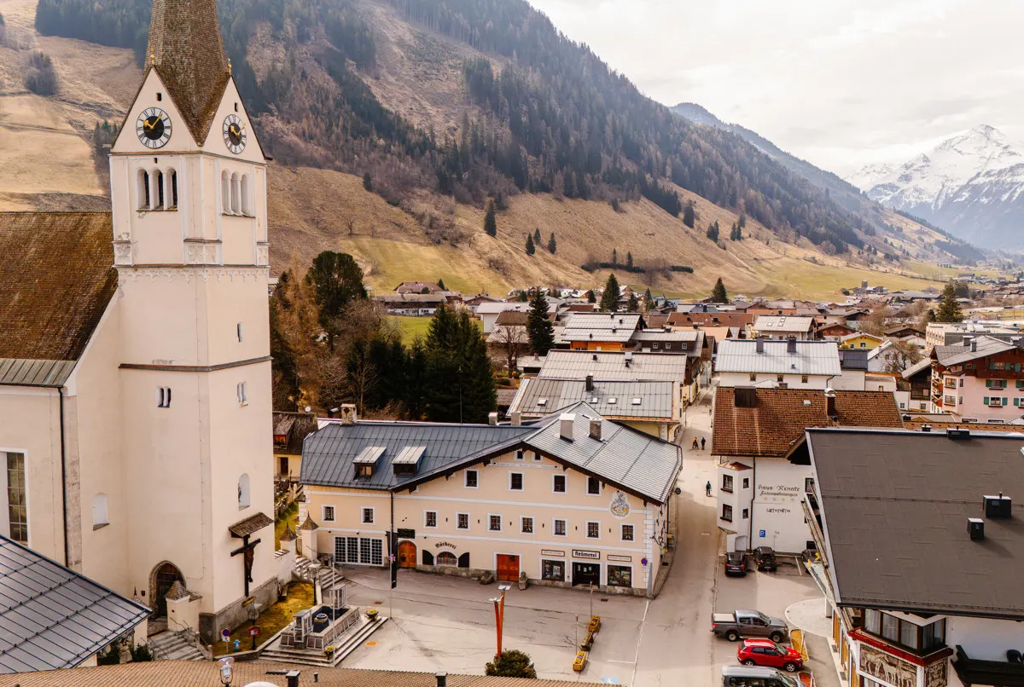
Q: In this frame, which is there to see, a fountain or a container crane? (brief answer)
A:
fountain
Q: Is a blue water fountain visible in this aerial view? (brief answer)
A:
No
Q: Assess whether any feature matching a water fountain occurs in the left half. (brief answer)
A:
Yes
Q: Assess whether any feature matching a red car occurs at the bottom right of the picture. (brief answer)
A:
Yes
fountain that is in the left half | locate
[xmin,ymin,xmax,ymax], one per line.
[259,576,387,666]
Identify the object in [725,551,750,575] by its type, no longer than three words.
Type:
car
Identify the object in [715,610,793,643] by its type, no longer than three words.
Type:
truck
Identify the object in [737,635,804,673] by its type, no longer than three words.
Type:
car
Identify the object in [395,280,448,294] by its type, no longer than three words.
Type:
house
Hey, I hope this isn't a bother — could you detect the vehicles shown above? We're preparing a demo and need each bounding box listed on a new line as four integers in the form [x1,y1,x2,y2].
[737,635,804,673]
[754,547,778,571]
[715,610,793,643]
[725,551,750,575]
[717,668,784,687]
